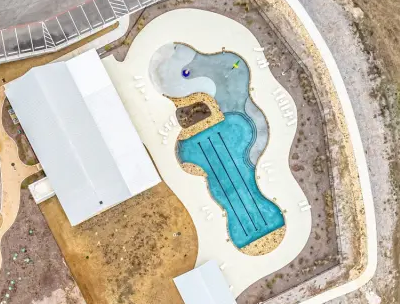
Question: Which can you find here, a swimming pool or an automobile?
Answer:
swimming pool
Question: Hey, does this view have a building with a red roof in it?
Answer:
No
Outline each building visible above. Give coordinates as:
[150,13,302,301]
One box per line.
[173,260,237,304]
[3,48,162,226]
